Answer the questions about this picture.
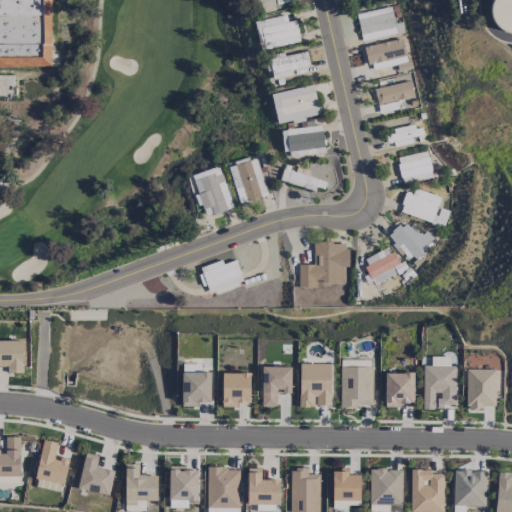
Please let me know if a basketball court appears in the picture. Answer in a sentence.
No, there is no basketball court in the image.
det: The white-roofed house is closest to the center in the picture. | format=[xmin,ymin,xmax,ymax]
[200,260,244,293]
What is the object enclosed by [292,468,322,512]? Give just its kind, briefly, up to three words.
house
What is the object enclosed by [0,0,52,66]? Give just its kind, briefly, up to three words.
building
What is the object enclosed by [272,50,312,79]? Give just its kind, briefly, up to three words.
house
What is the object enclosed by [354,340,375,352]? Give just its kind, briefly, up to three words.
swimming pool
